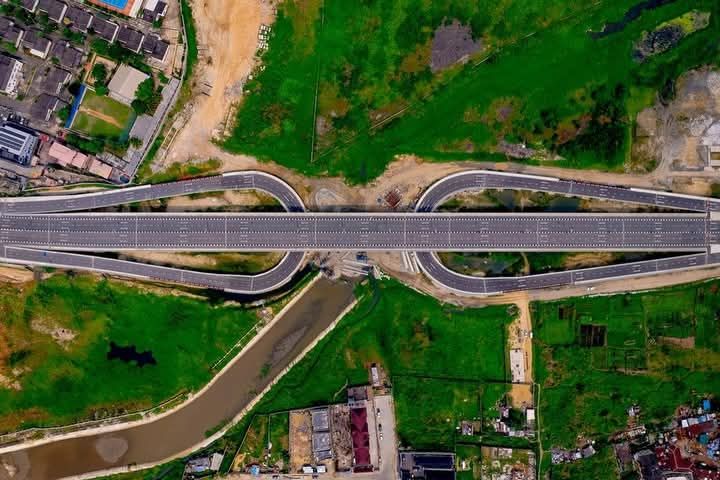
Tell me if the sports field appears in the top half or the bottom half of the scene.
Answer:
top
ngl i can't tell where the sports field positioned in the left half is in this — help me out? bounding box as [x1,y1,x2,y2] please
[72,91,132,142]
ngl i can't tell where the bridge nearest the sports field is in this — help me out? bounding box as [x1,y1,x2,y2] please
[0,210,720,252]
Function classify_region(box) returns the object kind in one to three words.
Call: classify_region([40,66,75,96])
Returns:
house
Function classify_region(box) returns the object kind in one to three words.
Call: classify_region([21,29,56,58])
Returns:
house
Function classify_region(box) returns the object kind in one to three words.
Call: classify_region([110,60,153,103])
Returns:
building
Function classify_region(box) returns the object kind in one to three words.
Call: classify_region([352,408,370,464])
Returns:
building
